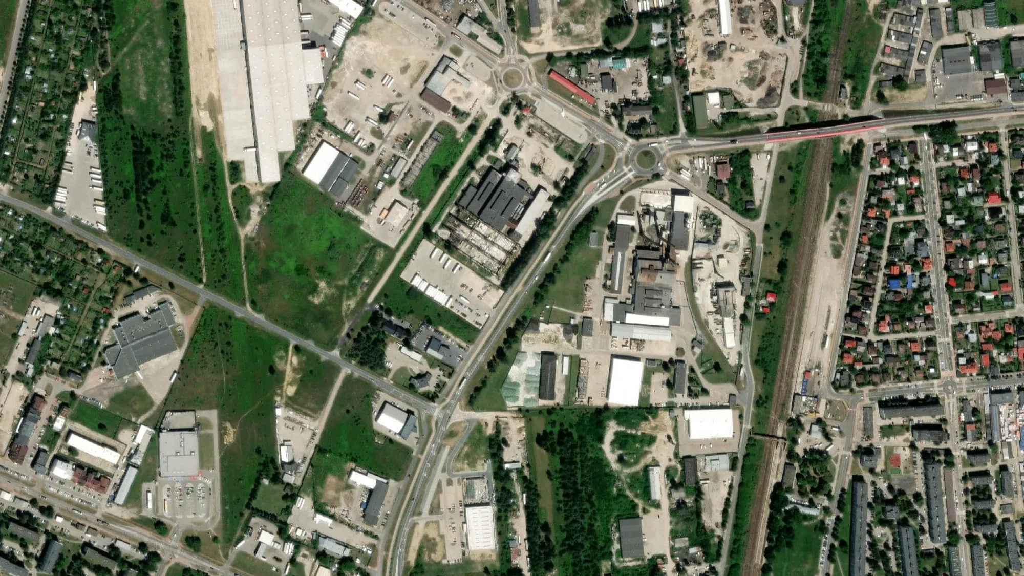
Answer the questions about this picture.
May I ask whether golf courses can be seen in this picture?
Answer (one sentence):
No, the scene contains no golf course.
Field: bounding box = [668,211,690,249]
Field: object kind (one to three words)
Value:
building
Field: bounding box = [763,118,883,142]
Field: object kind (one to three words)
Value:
bridge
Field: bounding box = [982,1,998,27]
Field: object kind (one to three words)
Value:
greenhouse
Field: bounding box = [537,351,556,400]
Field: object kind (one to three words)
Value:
shed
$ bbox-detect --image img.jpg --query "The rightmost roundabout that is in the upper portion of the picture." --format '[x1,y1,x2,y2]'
[630,143,663,176]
